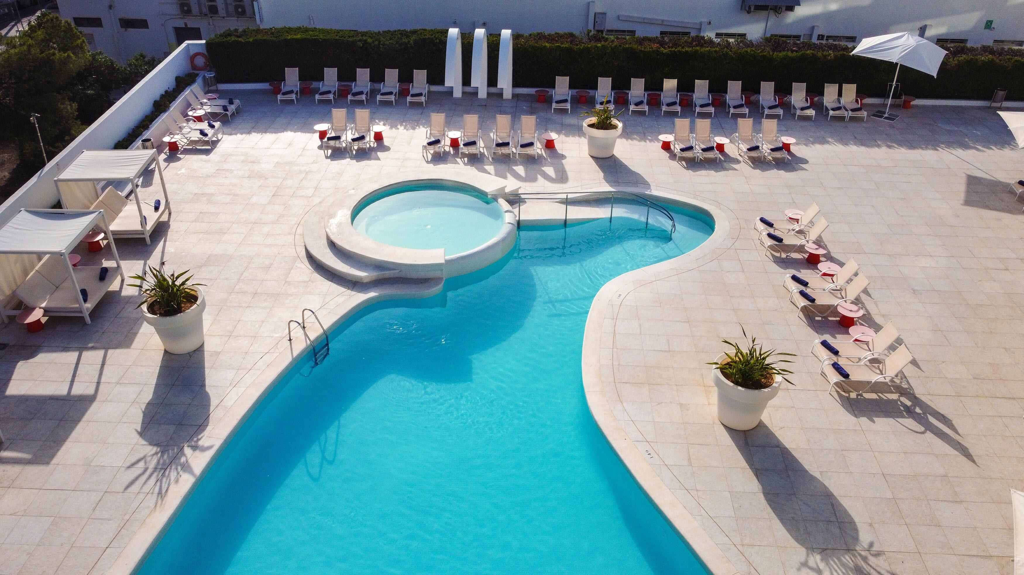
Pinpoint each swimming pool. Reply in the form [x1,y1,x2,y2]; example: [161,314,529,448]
[128,191,714,575]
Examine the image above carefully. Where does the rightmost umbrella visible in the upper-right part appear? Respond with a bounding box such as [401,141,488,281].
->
[995,110,1024,150]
